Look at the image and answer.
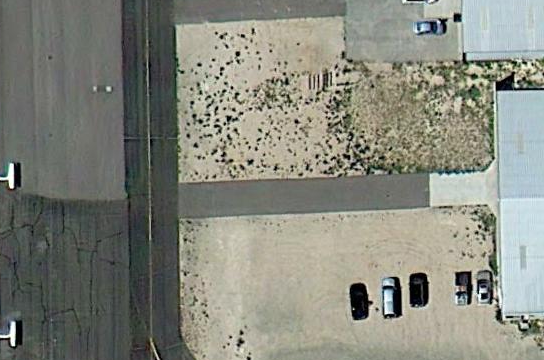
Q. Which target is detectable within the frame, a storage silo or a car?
car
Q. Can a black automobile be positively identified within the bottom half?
Yes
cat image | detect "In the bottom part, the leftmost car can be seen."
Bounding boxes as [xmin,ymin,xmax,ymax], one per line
[349,284,366,319]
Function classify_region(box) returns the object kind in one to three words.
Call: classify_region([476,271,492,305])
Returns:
vehicle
